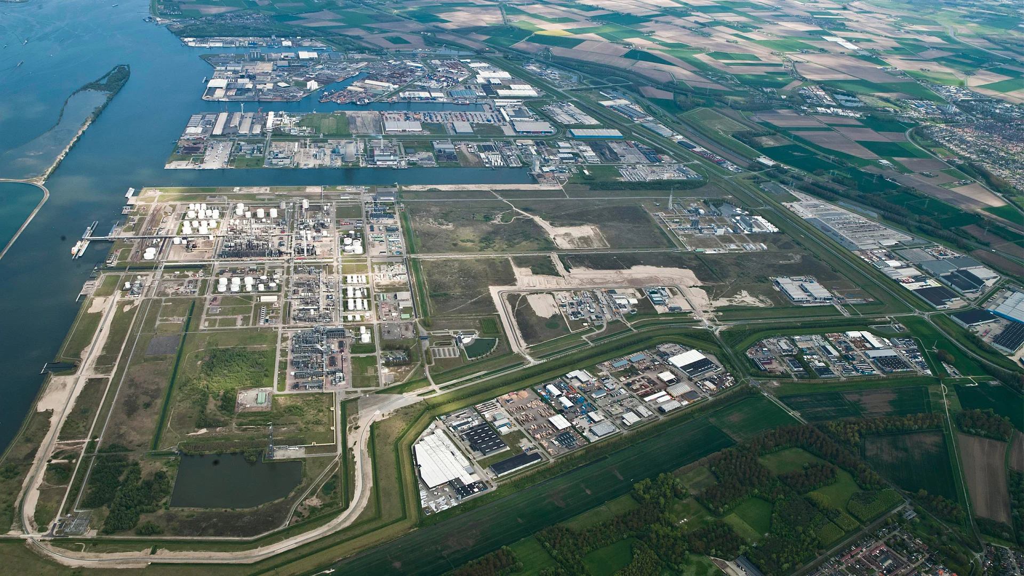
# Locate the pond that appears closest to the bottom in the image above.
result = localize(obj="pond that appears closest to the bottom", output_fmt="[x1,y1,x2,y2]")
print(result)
[170,452,301,507]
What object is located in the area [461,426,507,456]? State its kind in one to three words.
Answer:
building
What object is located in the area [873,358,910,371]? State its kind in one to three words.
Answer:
building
